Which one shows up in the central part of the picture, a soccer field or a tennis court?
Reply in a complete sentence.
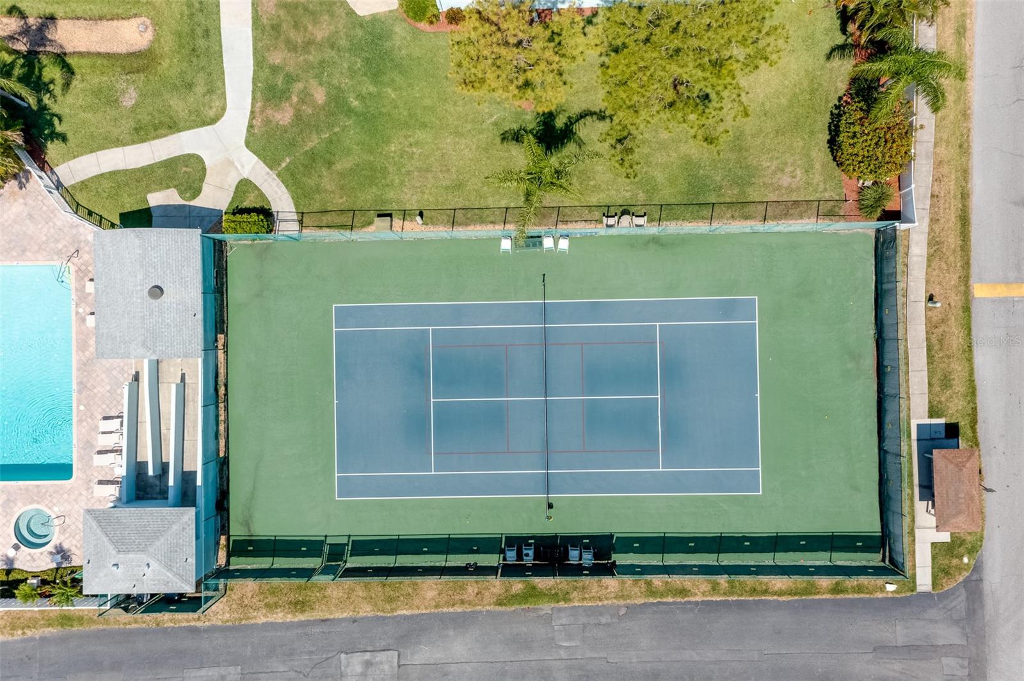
Looking in the central part of the picture, you will find a tennis court.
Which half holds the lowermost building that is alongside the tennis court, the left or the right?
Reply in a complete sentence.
The lowermost building that is alongside the tennis court is on the left side of the image.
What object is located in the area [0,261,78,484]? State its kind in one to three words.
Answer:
swimming pool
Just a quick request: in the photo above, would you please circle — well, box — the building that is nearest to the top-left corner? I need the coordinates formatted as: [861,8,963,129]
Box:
[93,227,216,359]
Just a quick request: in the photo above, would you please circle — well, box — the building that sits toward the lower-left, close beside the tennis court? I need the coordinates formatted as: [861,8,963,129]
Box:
[83,502,203,595]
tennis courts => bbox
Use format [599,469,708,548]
[228,230,881,565]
